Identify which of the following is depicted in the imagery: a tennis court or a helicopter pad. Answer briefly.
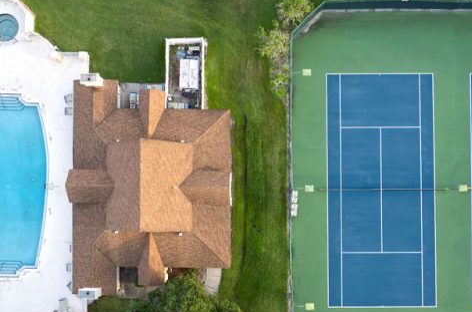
tennis court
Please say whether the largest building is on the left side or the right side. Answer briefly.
left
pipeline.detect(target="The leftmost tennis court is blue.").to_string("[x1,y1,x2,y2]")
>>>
[318,74,448,307]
